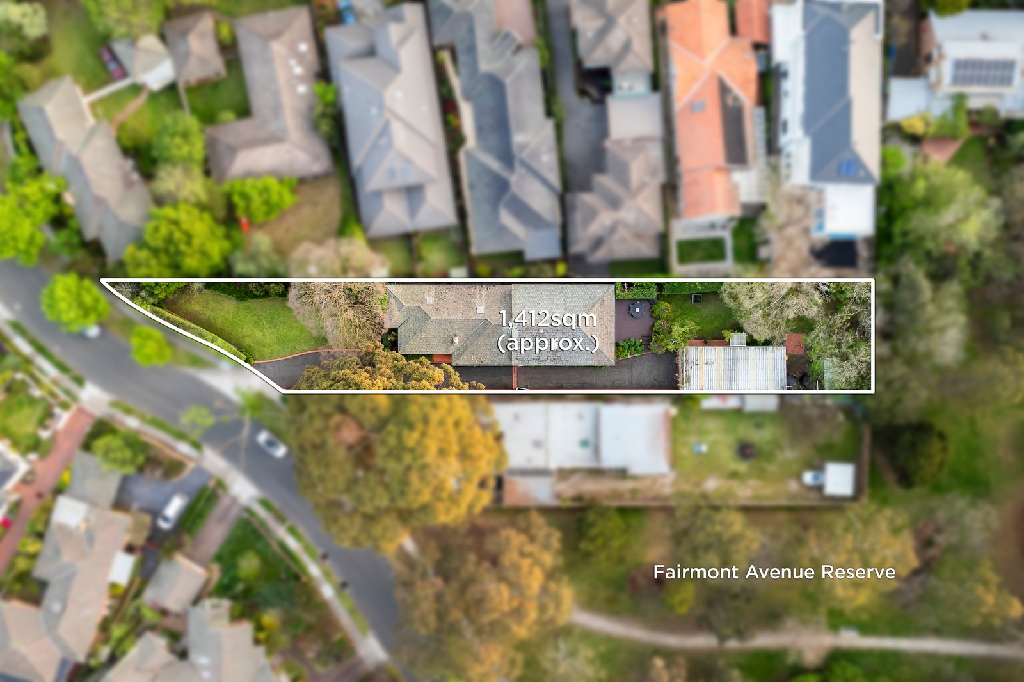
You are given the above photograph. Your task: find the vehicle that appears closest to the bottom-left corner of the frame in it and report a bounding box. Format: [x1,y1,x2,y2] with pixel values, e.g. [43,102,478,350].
[155,492,188,530]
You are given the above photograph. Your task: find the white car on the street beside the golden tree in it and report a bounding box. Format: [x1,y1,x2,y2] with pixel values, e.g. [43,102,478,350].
[257,428,289,459]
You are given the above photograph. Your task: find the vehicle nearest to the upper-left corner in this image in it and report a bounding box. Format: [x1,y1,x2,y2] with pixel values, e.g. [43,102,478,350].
[101,48,128,82]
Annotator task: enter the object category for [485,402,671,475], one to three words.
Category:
house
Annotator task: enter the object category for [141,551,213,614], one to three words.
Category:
building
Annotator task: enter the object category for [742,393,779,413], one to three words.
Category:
shed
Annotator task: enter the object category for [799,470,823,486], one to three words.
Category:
car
